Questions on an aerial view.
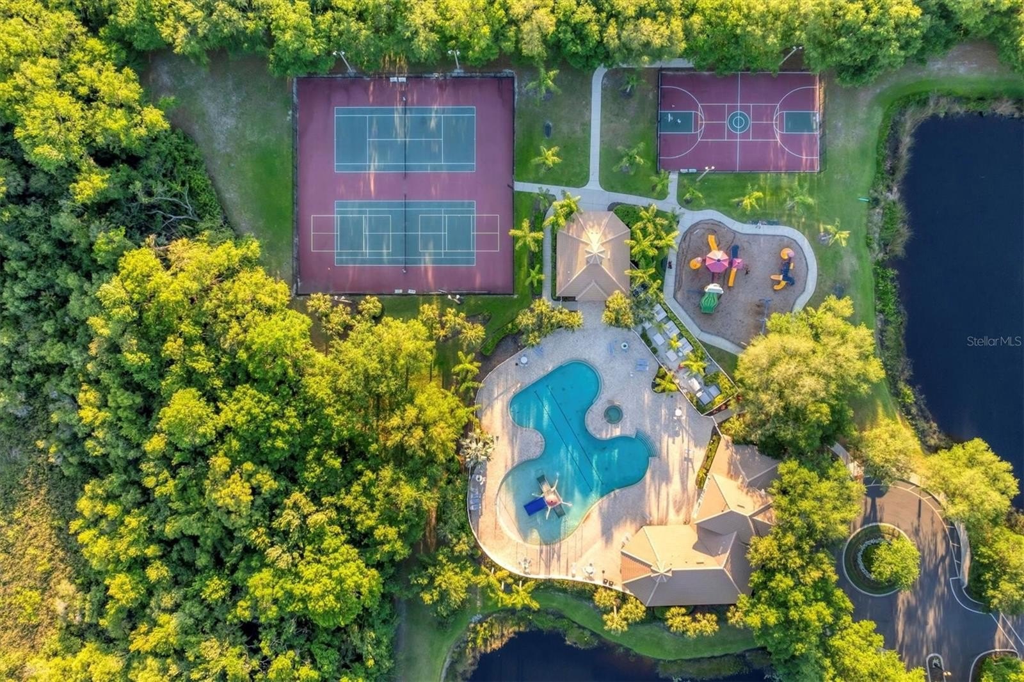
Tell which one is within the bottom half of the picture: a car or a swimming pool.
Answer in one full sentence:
The one visible within the bottom half of the picture is a swimming pool.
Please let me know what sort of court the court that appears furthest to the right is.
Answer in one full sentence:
The court that appears furthest to the right appears to be a basketball court.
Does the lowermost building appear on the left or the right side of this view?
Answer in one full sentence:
The lowermost building sits on the right side.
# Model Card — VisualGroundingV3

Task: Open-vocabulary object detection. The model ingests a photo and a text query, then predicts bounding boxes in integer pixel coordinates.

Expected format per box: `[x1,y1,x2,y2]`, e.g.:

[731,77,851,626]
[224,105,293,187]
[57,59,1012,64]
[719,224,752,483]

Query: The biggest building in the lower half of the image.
[620,435,776,607]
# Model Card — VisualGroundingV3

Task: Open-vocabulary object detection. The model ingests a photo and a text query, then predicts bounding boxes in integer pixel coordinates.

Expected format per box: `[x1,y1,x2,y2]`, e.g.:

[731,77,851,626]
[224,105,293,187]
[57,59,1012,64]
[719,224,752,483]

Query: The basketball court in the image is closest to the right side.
[659,72,820,172]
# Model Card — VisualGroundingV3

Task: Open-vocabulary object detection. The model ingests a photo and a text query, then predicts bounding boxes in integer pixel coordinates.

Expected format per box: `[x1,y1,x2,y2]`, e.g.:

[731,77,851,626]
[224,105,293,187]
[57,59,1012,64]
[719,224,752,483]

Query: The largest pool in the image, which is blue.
[495,359,660,548]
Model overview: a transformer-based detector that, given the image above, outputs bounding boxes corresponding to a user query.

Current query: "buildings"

[556,211,631,301]
[620,435,776,607]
